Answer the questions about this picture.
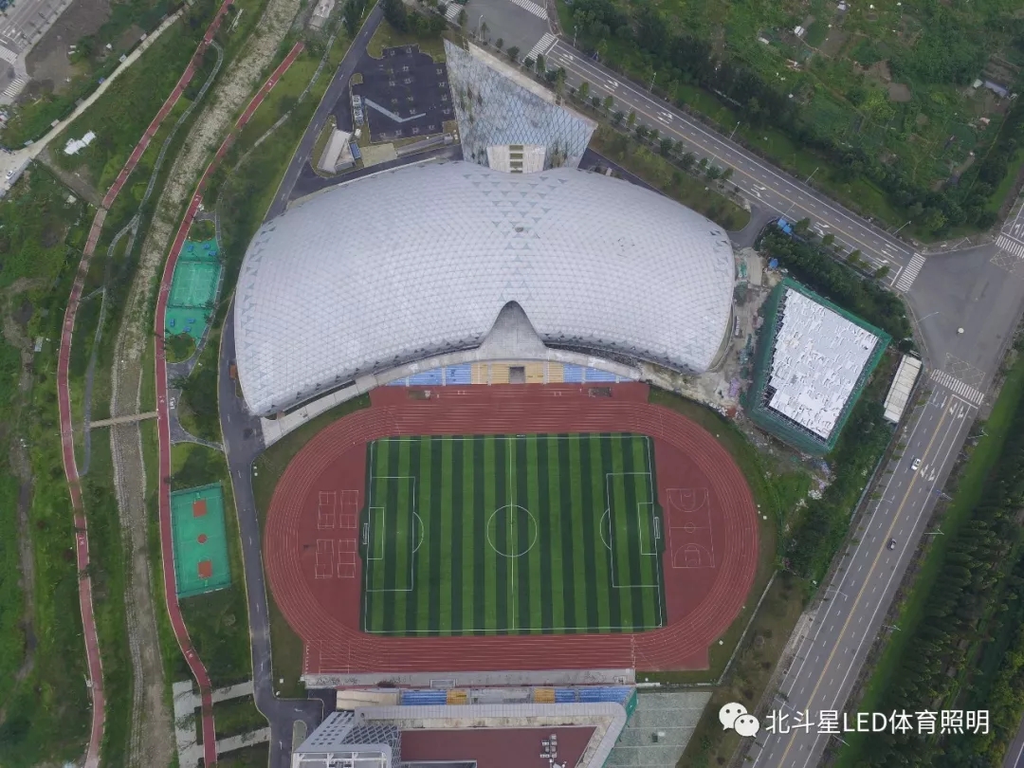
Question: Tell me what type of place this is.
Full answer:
This looks like a sports ground.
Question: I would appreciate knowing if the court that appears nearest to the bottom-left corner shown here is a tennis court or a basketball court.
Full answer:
I'd identify the court that appears nearest to the bottom-left corner as a basketball court.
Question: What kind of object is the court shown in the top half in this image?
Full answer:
What you see as the court shown in the top half is a tennis court.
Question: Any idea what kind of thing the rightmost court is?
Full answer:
What you see as the rightmost court is a basketball court.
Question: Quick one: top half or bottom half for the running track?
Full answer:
It is in the bottom half that the running track appears.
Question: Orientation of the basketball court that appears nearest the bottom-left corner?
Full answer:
Seen from above, the basketball court that appears nearest the bottom-left corner lies vertically.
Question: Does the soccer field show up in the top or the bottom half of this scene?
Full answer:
The soccer field is in the bottom half of the image.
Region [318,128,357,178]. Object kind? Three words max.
building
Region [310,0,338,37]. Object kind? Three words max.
building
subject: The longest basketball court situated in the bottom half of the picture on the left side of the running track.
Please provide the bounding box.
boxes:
[172,482,230,598]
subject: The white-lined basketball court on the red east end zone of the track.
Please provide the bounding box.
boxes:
[667,487,715,569]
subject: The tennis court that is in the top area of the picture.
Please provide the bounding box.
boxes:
[166,237,223,343]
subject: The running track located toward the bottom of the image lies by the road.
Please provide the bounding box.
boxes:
[264,383,759,674]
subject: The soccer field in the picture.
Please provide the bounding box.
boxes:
[356,433,668,637]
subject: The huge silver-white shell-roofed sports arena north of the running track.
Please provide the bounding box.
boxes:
[234,159,737,417]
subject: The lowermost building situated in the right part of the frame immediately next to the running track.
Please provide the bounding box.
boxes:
[743,277,891,454]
